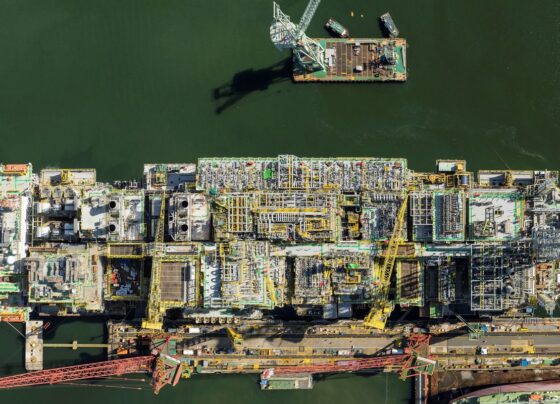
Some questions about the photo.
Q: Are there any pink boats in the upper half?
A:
No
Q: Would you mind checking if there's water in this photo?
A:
Yes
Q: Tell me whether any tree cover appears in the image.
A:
No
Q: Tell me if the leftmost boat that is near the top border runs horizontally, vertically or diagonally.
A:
diagonally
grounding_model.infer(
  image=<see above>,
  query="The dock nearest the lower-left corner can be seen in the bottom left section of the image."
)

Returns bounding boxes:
[23,317,49,370]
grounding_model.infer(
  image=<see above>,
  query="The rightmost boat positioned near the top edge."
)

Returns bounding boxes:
[380,13,399,40]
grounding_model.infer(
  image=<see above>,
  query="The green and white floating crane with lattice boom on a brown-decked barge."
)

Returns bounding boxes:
[273,0,407,84]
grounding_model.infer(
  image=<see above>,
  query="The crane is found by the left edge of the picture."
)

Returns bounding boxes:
[0,336,188,396]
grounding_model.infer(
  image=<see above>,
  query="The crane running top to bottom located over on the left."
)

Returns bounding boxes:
[141,190,170,329]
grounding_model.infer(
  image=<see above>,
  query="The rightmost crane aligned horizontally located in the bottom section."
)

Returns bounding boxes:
[261,332,441,380]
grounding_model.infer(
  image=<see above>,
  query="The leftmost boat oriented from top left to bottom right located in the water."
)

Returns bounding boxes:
[325,19,349,40]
